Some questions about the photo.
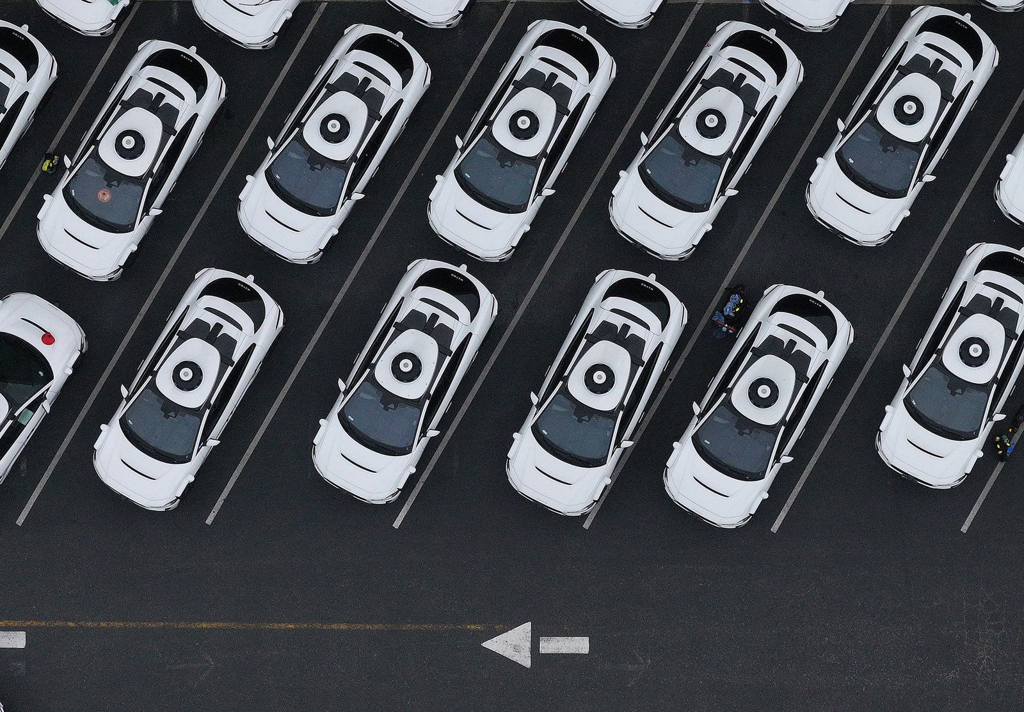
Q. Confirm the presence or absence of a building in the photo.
No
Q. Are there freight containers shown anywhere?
No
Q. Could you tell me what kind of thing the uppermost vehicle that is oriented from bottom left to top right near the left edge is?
automobile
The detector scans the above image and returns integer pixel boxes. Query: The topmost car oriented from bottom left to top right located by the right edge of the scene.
[805,5,999,247]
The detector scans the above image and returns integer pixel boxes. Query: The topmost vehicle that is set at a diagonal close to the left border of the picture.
[36,38,228,282]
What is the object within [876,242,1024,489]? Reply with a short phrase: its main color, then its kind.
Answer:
white car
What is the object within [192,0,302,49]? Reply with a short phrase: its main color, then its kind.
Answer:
white car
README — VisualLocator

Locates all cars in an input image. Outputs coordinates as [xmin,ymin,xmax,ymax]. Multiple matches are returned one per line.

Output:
[382,0,472,28]
[312,258,499,504]
[36,38,228,282]
[92,267,285,511]
[192,0,302,49]
[805,5,999,247]
[663,283,854,528]
[758,0,856,32]
[427,18,617,262]
[996,136,1024,229]
[608,19,804,260]
[237,23,433,265]
[34,0,135,36]
[575,0,666,29]
[971,0,1024,12]
[876,242,1024,489]
[0,20,60,176]
[0,292,86,484]
[505,269,687,516]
